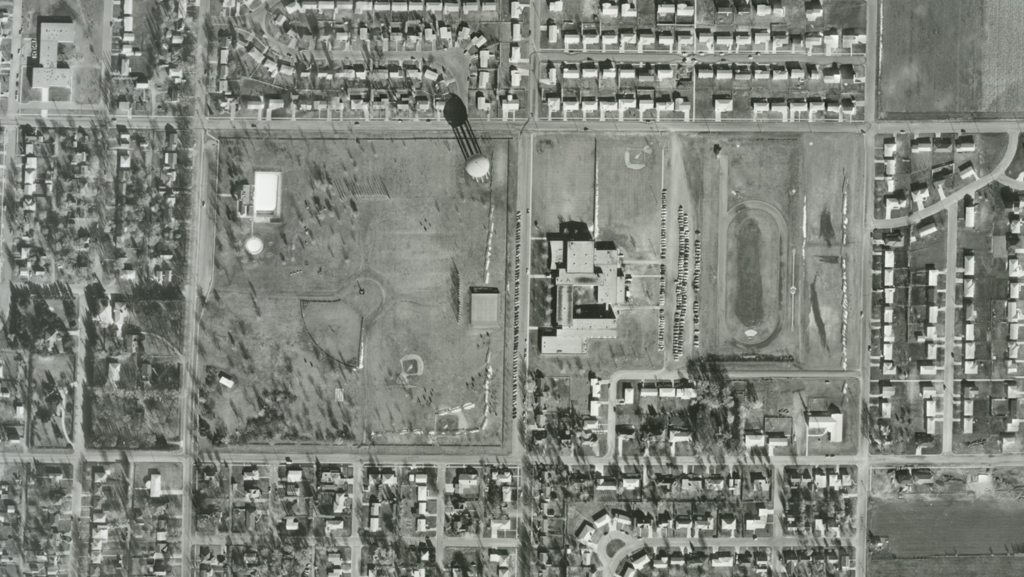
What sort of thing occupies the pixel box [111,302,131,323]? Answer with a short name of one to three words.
house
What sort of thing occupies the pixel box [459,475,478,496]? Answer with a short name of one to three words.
house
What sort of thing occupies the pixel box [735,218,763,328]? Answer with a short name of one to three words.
sports field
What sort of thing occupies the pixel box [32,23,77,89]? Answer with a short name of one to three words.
building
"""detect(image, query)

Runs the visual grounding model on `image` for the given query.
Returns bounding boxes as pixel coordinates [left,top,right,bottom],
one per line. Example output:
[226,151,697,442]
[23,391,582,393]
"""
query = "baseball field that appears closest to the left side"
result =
[301,301,362,367]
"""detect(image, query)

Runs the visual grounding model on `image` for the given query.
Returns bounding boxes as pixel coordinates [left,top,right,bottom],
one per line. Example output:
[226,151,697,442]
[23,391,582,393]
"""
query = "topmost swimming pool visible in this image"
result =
[254,172,281,222]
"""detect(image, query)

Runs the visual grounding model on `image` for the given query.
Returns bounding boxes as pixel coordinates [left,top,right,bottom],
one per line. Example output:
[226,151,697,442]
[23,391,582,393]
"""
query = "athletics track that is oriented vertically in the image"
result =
[718,155,787,351]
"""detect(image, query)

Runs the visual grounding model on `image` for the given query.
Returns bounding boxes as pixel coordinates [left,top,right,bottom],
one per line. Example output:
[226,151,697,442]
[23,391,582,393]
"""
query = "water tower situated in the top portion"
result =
[466,153,490,183]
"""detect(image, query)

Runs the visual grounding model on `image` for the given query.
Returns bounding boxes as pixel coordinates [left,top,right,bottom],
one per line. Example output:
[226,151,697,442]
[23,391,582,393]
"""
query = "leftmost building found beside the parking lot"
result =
[542,240,625,354]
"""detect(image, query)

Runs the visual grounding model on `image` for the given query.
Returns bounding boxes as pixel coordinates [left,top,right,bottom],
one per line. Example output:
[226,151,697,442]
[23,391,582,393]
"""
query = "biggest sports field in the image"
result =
[697,132,864,371]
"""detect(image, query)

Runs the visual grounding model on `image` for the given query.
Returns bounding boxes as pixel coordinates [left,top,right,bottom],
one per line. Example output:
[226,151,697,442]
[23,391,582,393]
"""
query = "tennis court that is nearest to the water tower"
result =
[471,293,500,327]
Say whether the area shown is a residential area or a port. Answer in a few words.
residential area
